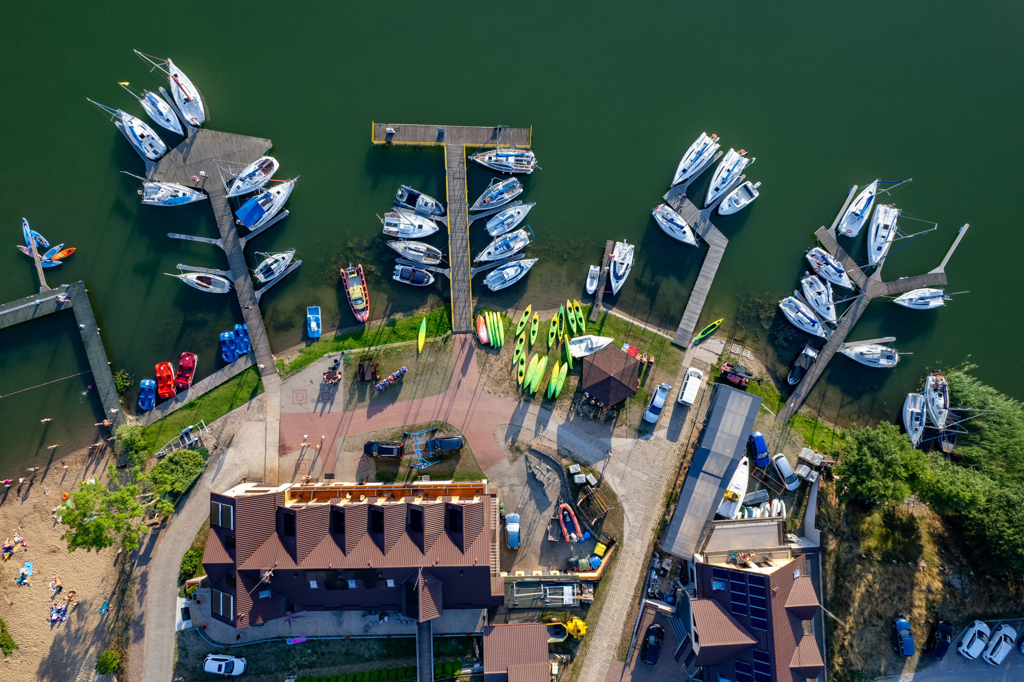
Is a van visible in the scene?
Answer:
Yes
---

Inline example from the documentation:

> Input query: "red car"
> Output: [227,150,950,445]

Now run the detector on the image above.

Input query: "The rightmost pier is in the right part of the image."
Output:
[776,185,969,423]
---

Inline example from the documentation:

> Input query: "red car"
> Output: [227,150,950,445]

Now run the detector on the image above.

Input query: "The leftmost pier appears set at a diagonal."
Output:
[0,237,128,431]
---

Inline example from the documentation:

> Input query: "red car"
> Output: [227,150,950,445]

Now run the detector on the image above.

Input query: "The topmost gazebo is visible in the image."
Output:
[582,343,639,406]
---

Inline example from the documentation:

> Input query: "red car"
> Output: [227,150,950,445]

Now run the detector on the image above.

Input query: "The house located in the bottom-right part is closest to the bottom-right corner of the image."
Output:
[684,539,823,682]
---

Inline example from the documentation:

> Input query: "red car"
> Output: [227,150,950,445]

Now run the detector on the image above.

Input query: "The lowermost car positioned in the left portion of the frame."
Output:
[202,652,247,678]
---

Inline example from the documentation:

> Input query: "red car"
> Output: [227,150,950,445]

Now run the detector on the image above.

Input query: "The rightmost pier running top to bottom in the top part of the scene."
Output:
[663,151,745,347]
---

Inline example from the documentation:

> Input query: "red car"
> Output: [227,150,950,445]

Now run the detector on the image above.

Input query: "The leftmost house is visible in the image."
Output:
[201,474,509,628]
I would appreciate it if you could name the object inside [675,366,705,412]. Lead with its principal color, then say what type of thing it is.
white van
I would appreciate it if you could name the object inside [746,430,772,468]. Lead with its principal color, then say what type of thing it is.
blue car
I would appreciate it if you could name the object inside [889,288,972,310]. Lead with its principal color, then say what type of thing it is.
white boat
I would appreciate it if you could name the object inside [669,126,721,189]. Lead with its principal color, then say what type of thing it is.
white boat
